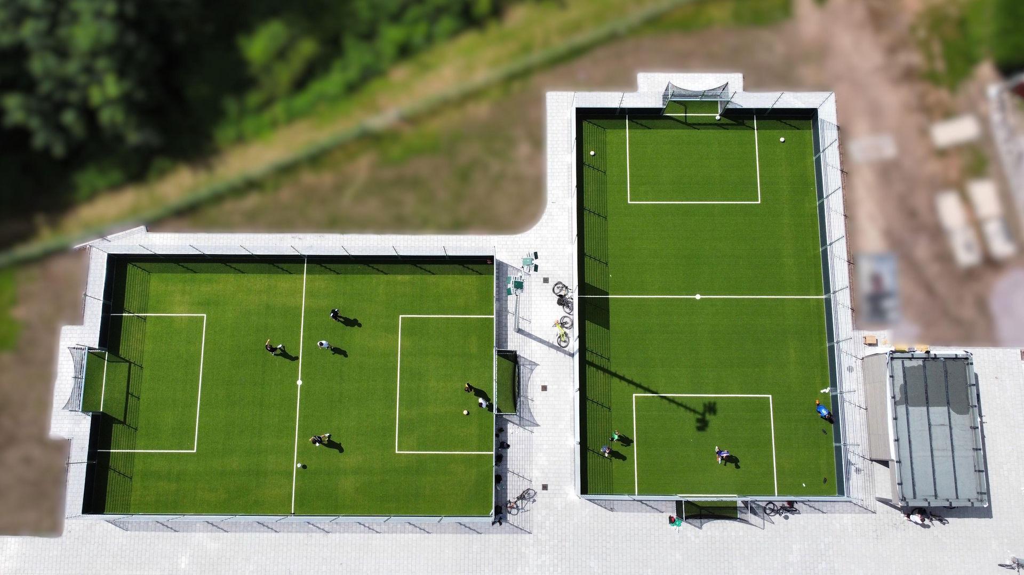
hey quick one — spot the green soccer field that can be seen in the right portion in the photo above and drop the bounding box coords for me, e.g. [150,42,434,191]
[573,99,837,516]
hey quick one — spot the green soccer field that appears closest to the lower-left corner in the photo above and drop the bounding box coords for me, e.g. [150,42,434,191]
[83,258,513,513]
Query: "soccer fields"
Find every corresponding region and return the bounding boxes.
[573,99,837,516]
[83,258,513,513]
